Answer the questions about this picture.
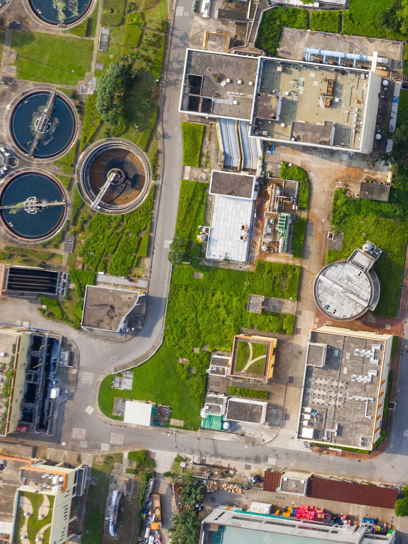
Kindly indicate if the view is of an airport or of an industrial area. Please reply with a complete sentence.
It's an industrial area.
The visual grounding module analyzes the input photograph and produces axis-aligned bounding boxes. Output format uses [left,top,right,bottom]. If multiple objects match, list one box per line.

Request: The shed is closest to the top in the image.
[217,9,250,24]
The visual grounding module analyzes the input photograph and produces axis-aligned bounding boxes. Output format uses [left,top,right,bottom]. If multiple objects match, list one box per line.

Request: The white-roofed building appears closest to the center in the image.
[206,195,260,263]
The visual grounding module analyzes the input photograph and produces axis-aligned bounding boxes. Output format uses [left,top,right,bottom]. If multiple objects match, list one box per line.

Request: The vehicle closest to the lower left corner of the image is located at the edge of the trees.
[150,491,163,530]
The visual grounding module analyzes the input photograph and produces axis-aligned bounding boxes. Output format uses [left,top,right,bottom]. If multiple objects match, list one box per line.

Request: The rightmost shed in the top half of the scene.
[359,182,392,201]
